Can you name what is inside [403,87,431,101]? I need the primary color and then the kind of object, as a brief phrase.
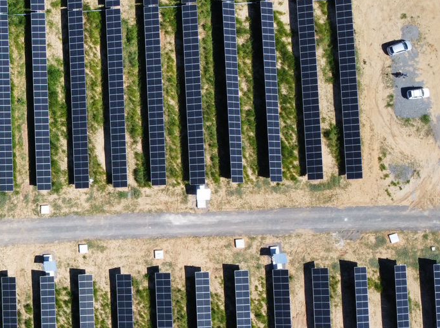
white car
